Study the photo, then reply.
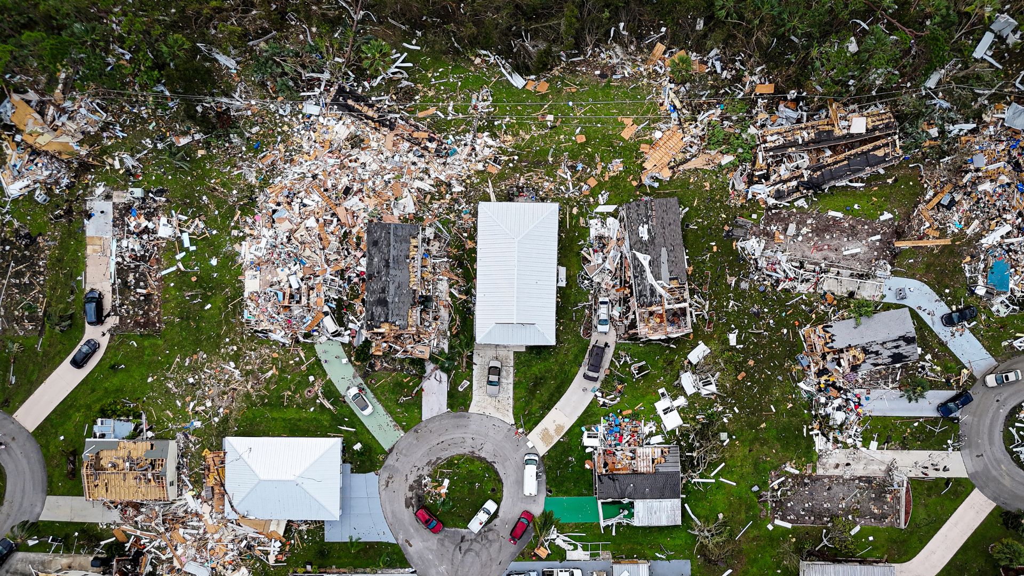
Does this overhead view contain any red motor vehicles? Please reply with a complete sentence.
Yes, looking at the shot, I can spot a red motor vehicle.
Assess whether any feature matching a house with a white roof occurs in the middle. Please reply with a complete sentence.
Yes, you'll find a house with a white roof in the middle.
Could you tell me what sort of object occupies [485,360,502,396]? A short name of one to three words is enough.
car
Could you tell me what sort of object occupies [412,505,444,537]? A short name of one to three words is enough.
car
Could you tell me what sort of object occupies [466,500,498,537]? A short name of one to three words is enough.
truck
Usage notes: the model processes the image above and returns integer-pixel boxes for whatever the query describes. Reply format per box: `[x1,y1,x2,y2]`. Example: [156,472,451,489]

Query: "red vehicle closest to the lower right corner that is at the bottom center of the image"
[507,511,532,550]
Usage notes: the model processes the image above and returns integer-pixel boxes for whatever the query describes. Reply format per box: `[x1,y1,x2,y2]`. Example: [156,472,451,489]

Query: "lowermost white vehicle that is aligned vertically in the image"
[522,454,540,500]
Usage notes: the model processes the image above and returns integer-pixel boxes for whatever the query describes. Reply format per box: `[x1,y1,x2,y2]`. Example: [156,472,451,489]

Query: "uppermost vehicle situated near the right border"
[943,305,982,327]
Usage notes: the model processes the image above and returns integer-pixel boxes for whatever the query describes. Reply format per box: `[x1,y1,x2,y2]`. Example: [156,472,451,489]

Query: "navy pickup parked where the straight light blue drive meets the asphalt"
[938,390,980,418]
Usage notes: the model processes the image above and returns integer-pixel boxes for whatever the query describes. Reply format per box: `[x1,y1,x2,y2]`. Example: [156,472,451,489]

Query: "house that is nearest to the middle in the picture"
[474,201,559,346]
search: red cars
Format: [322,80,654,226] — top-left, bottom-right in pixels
[507,511,532,550]
[412,505,444,537]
